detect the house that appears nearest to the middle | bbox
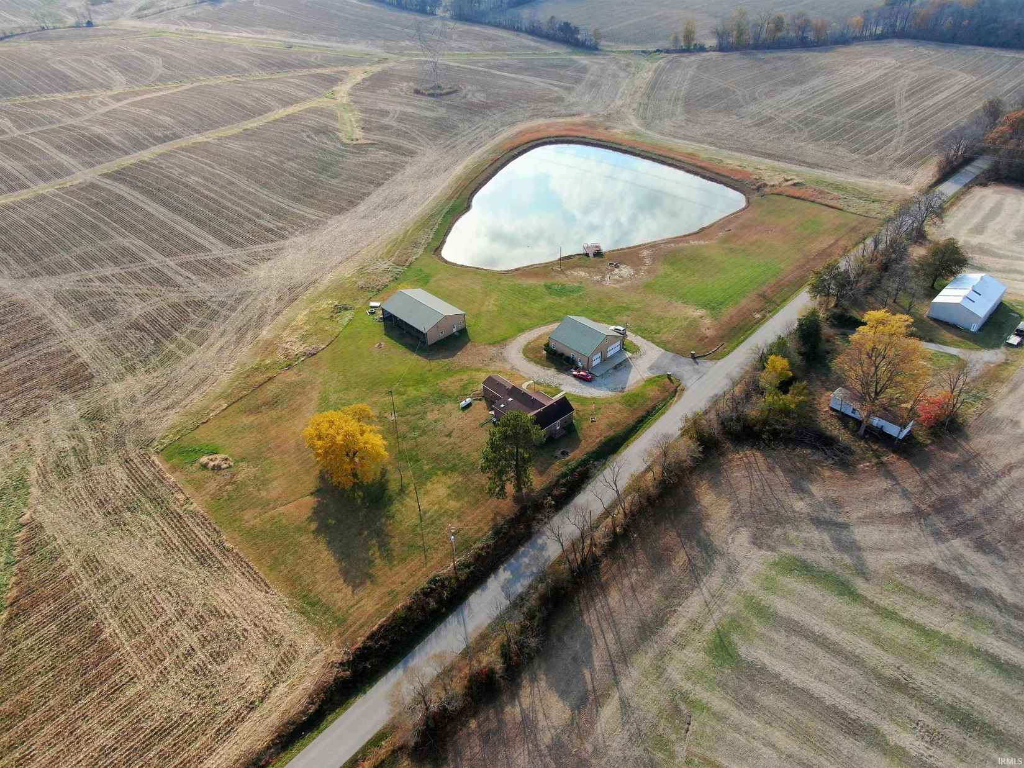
[480,374,575,438]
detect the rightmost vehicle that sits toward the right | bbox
[1007,331,1023,346]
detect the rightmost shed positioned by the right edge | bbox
[929,274,1008,331]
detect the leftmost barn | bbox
[380,290,467,345]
